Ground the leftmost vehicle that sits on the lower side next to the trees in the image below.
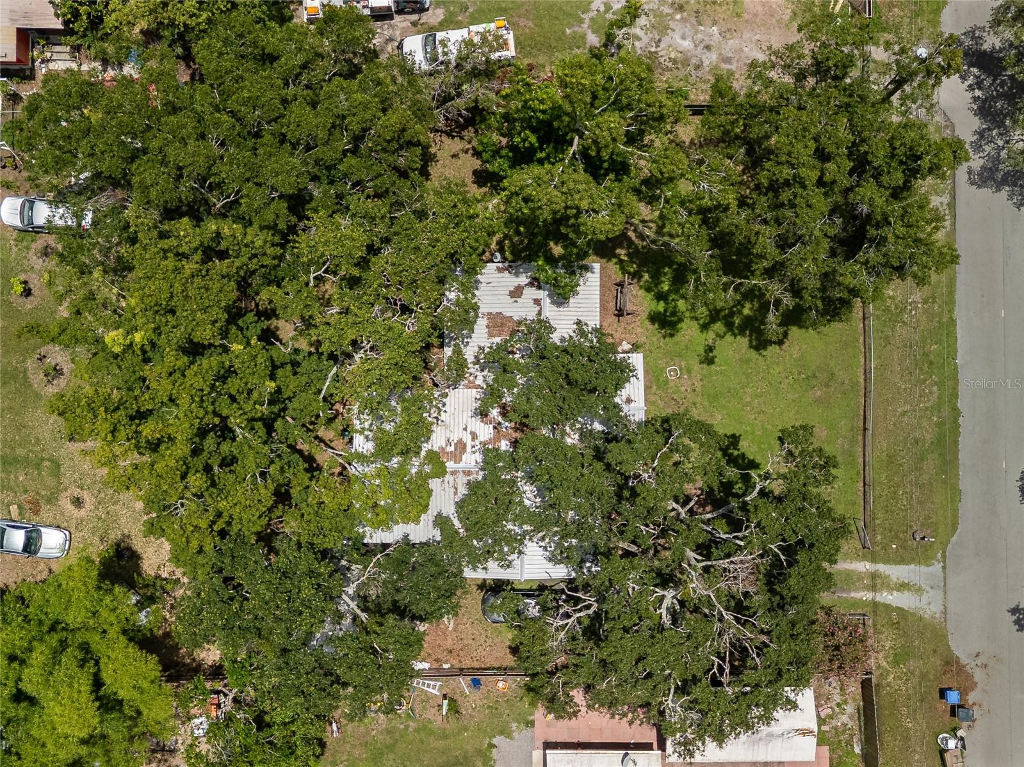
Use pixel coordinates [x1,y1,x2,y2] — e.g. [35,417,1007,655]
[0,515,77,563]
